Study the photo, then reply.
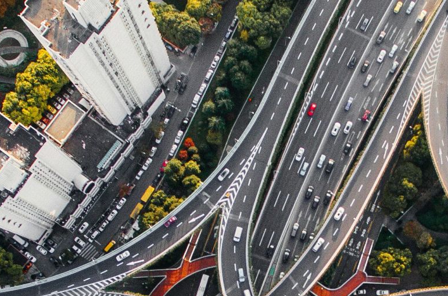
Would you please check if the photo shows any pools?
No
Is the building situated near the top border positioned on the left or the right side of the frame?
left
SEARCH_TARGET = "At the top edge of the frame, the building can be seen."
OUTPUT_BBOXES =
[17,0,172,115]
